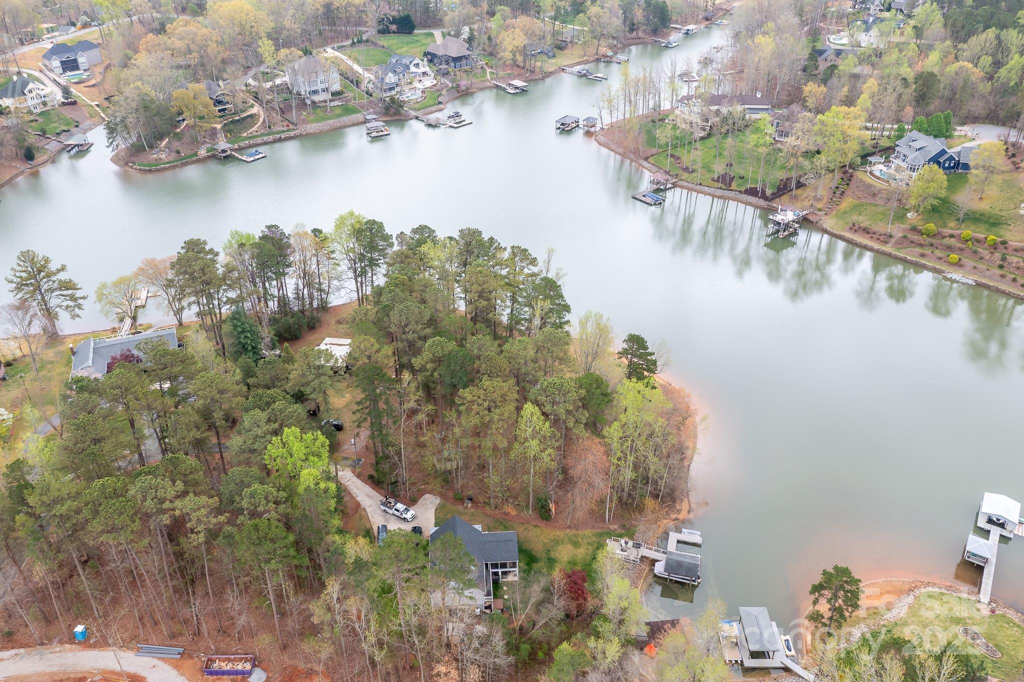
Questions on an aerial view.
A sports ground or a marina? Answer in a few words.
marina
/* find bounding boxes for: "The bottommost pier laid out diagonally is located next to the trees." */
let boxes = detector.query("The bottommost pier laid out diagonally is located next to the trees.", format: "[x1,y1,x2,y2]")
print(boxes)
[736,608,819,682]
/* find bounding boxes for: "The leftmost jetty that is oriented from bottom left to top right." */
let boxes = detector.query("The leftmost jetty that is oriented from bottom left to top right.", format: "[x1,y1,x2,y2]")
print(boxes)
[115,288,160,330]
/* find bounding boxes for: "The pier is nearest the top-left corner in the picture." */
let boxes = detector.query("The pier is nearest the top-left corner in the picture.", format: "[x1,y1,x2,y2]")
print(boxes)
[61,138,93,154]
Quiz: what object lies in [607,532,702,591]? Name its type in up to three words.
pier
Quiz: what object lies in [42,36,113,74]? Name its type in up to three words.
house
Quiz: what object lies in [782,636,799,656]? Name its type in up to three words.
boat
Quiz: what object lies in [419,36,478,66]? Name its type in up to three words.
house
